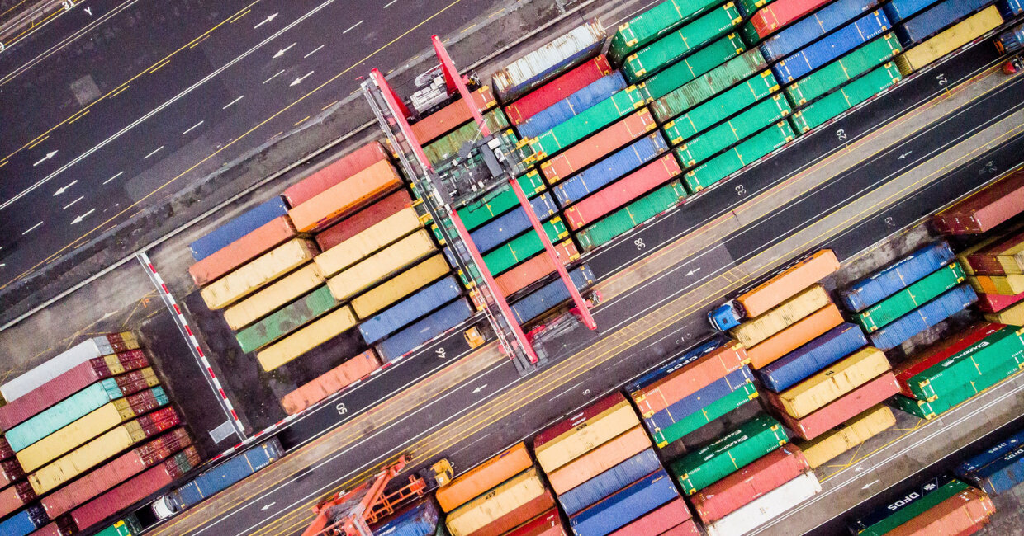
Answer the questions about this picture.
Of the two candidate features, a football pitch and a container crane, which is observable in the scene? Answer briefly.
container crane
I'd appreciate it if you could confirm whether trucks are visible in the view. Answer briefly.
Yes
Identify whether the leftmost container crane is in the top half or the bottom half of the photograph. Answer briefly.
bottom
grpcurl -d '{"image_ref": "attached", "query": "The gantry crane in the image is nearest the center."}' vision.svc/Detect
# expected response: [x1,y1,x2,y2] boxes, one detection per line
[346,34,604,381]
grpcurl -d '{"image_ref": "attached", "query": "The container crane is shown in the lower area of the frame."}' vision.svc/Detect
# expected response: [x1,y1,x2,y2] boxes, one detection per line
[292,454,432,536]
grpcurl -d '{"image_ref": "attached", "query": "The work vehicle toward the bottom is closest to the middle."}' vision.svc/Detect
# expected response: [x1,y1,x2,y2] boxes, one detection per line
[454,318,496,353]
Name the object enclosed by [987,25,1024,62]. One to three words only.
truck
